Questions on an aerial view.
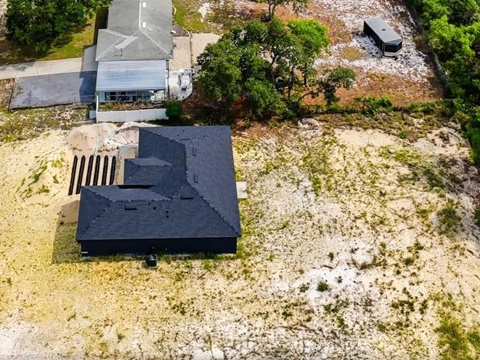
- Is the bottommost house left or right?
left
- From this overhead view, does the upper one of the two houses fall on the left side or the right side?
left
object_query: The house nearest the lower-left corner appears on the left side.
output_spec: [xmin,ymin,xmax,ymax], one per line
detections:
[74,126,242,253]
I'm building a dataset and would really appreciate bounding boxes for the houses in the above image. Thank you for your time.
[74,126,242,253]
[93,0,172,106]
